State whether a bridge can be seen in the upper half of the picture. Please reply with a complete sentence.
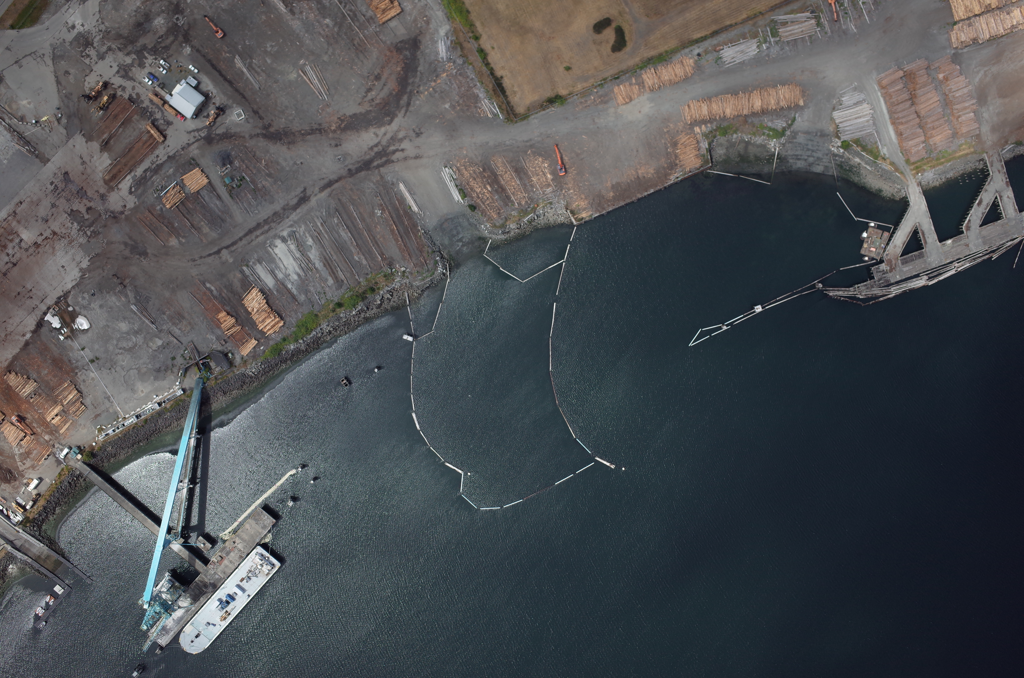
No, no bridge can be made out in the upper half of the picture.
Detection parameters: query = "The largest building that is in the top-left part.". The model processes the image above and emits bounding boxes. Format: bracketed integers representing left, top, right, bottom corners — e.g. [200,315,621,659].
[164,79,207,120]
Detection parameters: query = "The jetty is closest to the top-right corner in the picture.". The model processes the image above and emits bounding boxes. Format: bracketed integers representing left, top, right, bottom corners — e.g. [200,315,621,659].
[962,149,1020,235]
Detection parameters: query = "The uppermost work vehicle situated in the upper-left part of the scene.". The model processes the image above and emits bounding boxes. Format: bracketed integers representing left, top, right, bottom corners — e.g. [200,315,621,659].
[204,15,226,39]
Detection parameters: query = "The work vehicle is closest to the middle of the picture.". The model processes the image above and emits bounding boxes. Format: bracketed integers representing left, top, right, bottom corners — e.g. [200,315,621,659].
[554,146,566,177]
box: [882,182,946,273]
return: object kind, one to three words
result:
pier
